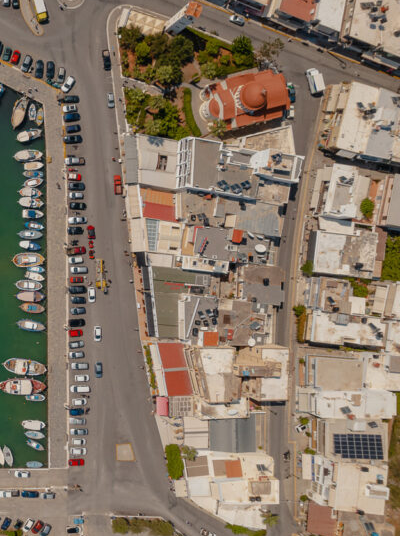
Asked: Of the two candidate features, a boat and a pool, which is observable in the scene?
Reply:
boat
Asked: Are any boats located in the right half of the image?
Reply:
No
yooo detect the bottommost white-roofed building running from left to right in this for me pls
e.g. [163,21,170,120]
[189,495,267,529]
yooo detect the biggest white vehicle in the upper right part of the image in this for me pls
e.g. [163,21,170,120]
[301,67,327,98]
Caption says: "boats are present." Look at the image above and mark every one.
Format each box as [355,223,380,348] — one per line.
[26,393,48,402]
[19,302,48,315]
[25,436,48,455]
[25,221,47,232]
[27,265,47,273]
[12,93,28,129]
[3,445,13,467]
[15,290,47,302]
[14,150,46,162]
[1,358,49,376]
[11,253,46,267]
[15,280,46,291]
[28,100,36,121]
[17,230,46,240]
[0,378,49,395]
[22,170,46,178]
[25,460,44,467]
[23,162,46,170]
[36,107,44,126]
[23,177,45,187]
[19,187,46,197]
[17,129,46,142]
[18,196,47,208]
[19,240,47,251]
[16,318,48,333]
[24,430,46,439]
[22,209,46,218]
[23,270,45,281]
[22,420,46,430]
